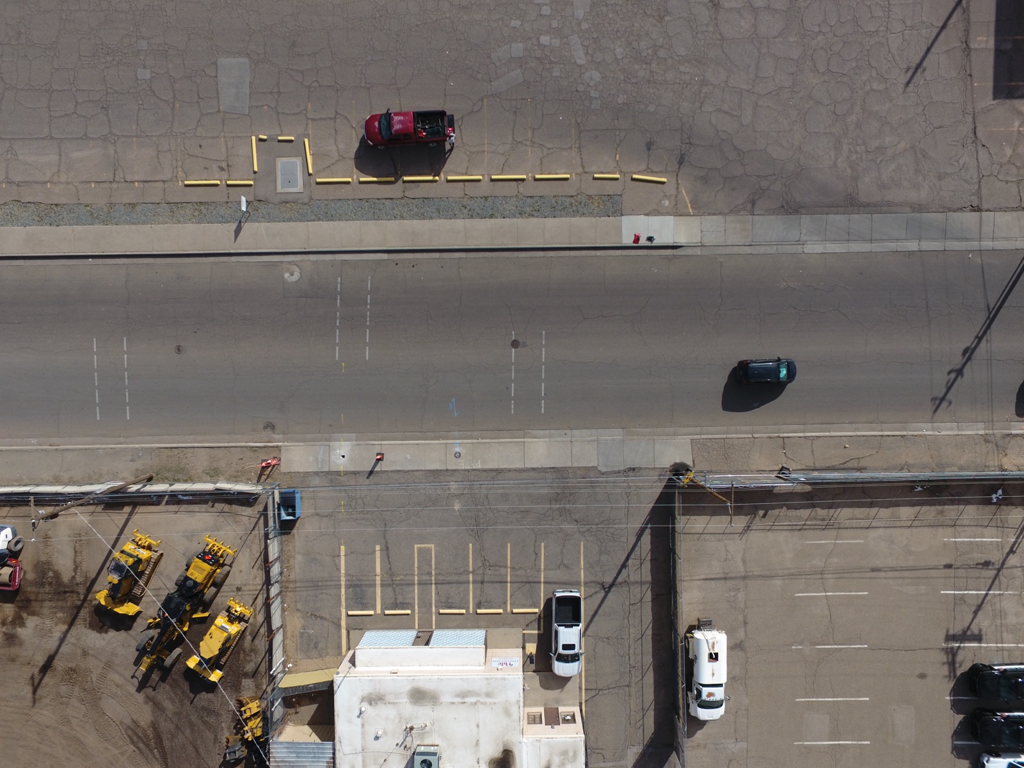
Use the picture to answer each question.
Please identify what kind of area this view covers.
parking lot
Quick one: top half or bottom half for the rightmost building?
bottom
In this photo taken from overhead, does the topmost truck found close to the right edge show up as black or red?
black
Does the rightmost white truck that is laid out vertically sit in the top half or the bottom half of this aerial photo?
bottom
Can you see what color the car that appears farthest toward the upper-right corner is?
black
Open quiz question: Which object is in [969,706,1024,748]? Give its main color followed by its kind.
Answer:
black truck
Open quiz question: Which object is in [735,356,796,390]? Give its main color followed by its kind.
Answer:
black car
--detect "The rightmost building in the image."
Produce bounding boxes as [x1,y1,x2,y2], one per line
[333,630,586,768]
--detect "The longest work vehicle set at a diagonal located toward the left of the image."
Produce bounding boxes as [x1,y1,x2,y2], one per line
[129,537,236,676]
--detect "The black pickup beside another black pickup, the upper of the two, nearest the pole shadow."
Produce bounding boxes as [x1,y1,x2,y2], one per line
[965,660,1024,701]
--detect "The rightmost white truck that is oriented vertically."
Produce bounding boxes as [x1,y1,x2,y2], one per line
[686,621,731,718]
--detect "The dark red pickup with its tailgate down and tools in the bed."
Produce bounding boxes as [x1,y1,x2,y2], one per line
[363,108,452,148]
